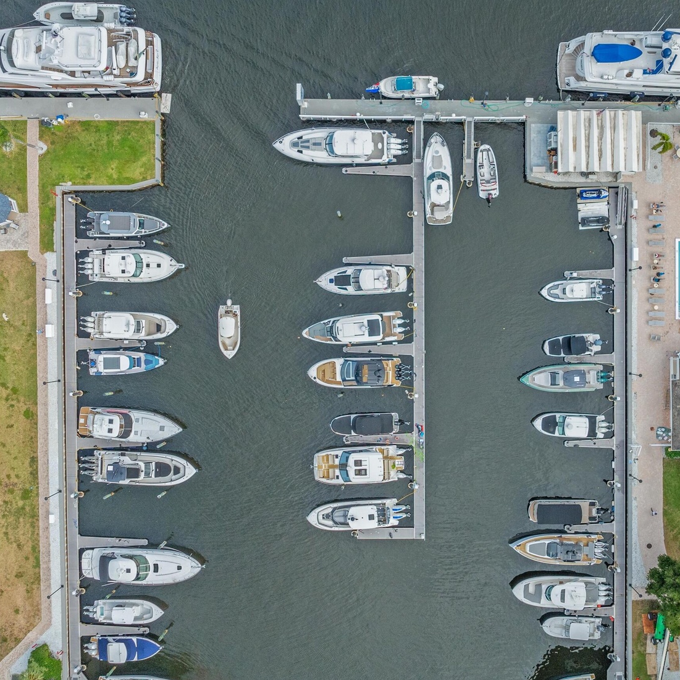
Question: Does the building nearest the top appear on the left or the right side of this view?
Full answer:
You can find the building nearest the top on the right side of the picture.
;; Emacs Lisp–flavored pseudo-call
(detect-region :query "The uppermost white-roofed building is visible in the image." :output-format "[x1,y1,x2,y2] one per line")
[557,109,651,175]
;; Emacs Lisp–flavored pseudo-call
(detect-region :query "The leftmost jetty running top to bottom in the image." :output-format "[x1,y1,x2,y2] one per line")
[65,195,151,680]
